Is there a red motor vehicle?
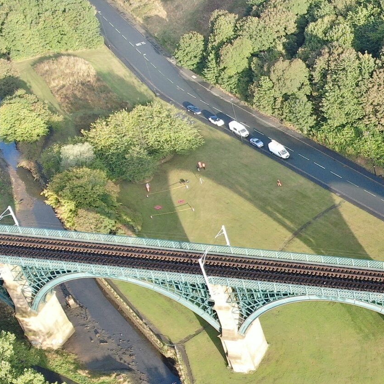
No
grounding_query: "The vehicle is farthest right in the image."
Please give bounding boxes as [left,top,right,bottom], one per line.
[267,138,288,155]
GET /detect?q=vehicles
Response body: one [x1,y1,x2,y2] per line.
[267,138,288,155]
[186,103,201,113]
[208,114,224,125]
[248,136,264,146]
[229,118,248,134]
